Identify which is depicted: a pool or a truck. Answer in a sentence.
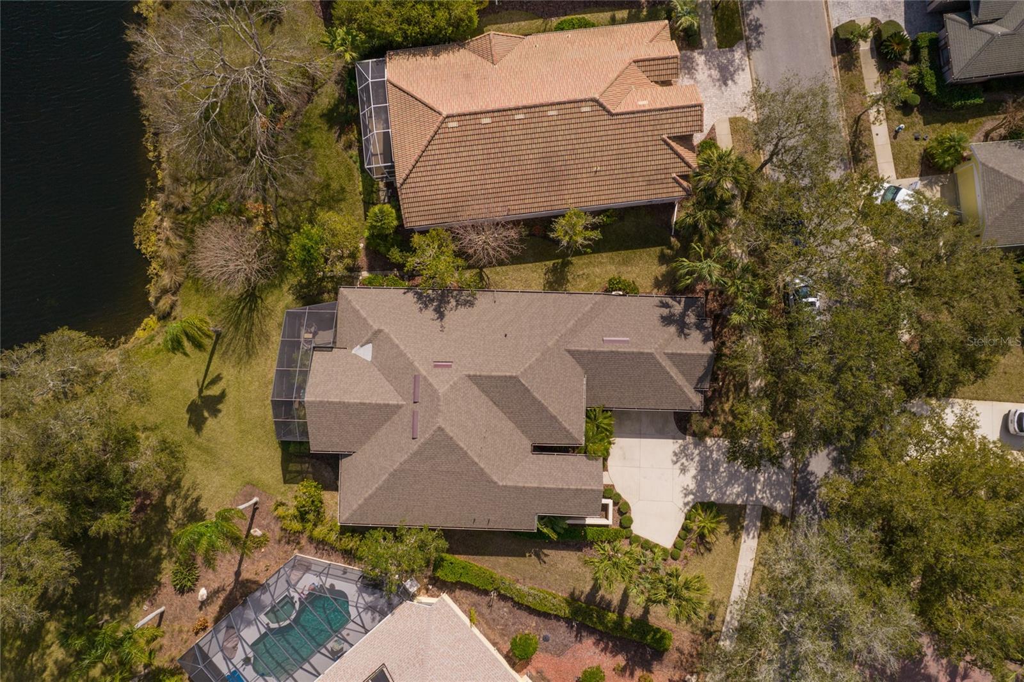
It is a pool that can be seen here.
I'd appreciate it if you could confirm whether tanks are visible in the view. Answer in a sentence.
No, there appears to be no tank in this shot.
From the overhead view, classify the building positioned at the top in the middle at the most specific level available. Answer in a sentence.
What you see as the building positioned at the top in the middle is a house.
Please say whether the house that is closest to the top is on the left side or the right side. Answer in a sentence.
The house that is closest to the top sits on the right side.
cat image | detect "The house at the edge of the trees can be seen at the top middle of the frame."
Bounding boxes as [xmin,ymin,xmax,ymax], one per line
[385,18,704,235]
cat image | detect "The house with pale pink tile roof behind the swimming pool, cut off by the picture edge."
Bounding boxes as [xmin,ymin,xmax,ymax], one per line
[308,583,545,682]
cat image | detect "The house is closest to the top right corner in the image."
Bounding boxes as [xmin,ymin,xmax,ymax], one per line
[910,0,1024,91]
